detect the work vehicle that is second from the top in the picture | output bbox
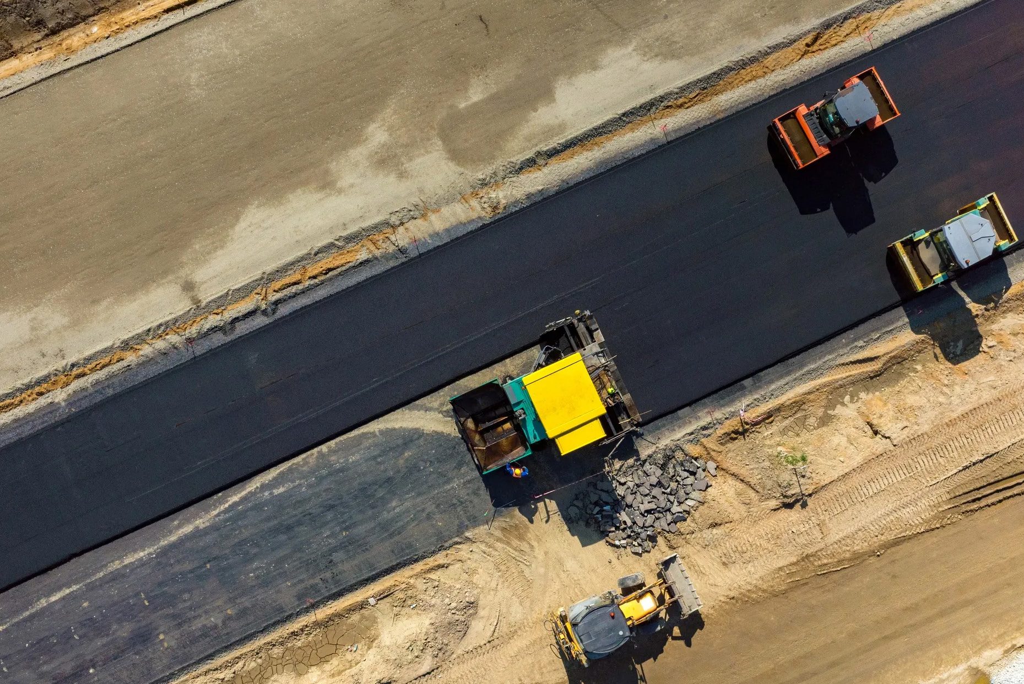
[884,193,1020,292]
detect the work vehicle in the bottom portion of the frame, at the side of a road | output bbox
[550,548,702,668]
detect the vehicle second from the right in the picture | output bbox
[768,66,900,169]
